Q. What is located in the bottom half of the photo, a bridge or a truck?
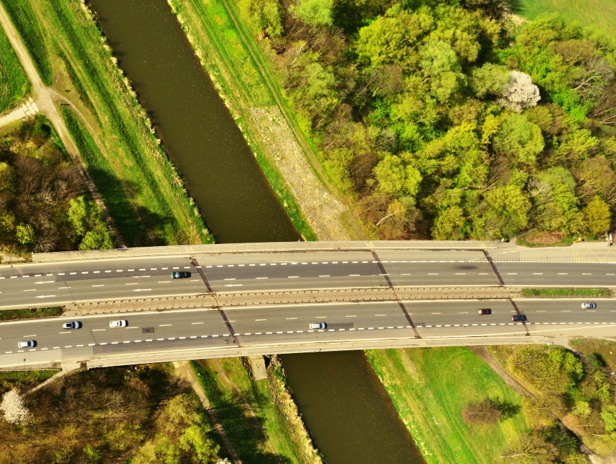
bridge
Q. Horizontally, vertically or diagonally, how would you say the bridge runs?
horizontally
